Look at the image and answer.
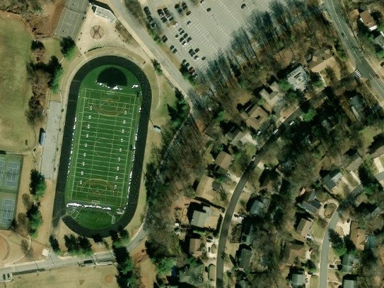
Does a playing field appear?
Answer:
Yes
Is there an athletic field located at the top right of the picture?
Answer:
No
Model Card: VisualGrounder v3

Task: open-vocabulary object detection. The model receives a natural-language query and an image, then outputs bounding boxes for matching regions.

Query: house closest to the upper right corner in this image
[357,7,380,32]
